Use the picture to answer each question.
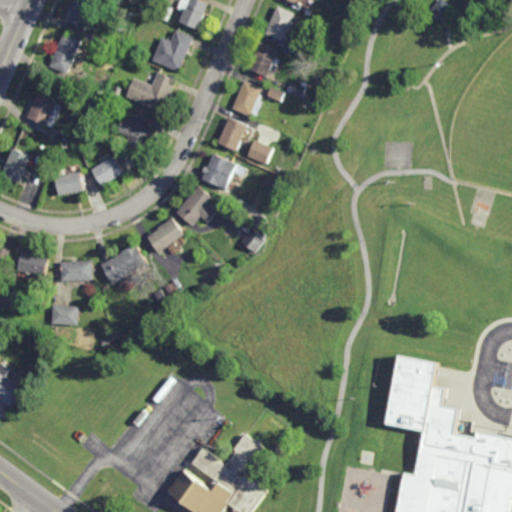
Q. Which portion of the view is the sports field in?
top right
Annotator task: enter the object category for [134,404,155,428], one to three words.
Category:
truck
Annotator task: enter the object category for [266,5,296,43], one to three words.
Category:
house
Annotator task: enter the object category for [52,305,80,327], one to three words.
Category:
building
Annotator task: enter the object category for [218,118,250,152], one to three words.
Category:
house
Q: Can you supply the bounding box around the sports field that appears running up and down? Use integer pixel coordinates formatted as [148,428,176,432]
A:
[448,33,512,192]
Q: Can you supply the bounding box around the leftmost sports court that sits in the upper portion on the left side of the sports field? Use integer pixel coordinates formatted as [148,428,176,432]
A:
[384,142,412,169]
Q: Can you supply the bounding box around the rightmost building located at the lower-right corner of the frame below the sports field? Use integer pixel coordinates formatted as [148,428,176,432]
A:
[384,354,512,512]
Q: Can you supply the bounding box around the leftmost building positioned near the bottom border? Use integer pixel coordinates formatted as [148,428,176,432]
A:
[168,433,270,512]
